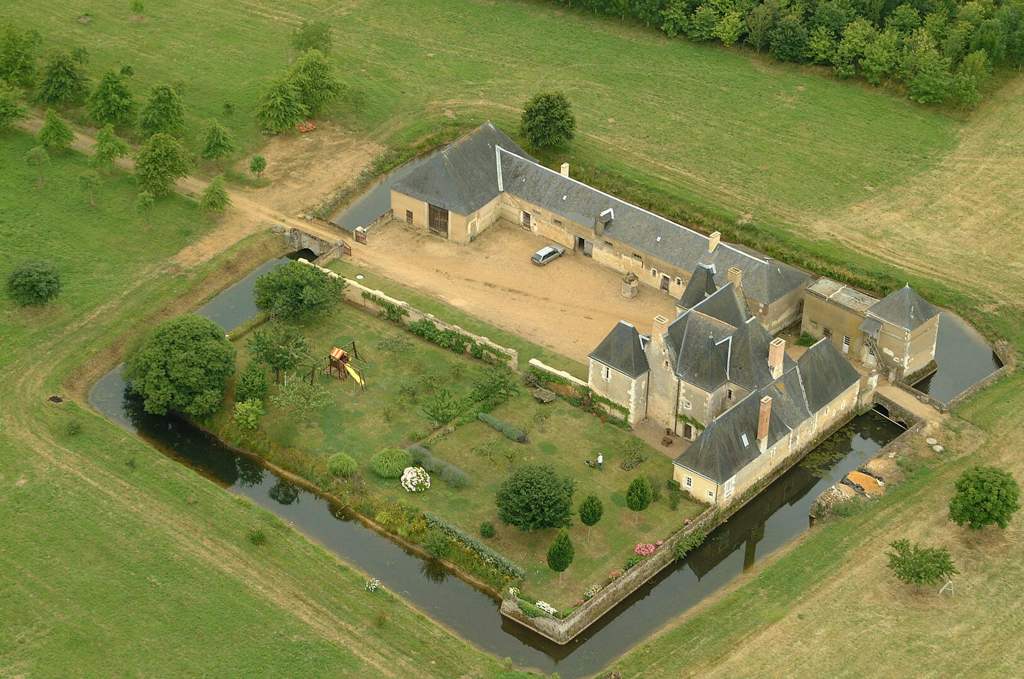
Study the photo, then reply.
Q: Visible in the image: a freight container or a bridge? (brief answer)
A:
bridge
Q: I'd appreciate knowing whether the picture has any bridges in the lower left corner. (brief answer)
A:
No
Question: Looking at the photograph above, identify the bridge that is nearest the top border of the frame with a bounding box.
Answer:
[275,215,364,258]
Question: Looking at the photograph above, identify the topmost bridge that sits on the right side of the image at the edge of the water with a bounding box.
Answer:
[865,380,946,428]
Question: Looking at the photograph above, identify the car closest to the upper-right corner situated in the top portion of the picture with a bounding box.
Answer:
[531,244,566,265]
